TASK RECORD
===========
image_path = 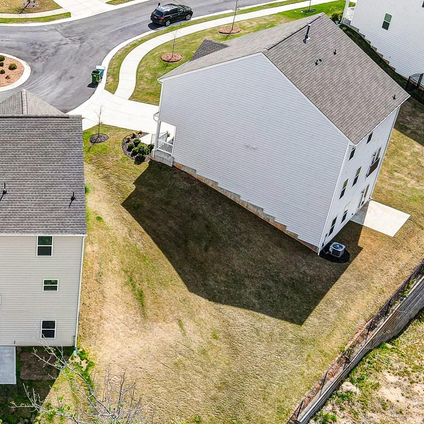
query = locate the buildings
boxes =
[147,10,411,254]
[341,0,424,87]
[0,87,88,349]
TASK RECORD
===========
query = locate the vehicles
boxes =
[149,2,195,26]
